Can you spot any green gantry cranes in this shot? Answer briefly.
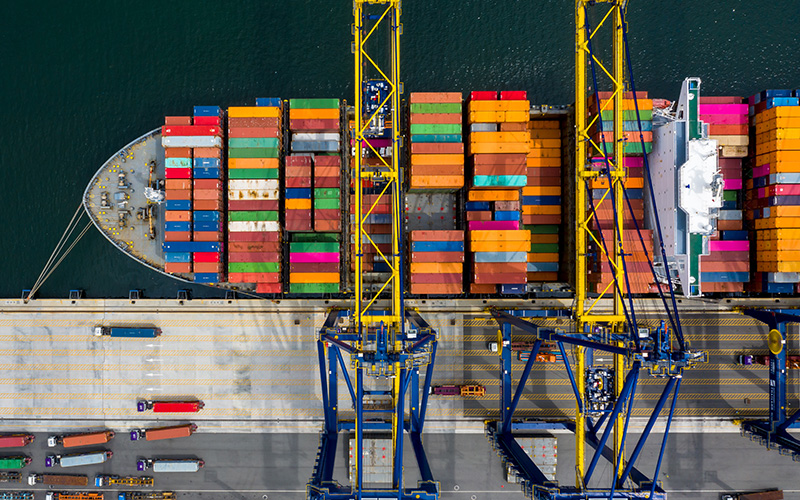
No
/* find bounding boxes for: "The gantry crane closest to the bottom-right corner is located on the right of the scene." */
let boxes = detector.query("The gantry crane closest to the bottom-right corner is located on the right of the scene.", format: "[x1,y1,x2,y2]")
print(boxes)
[733,307,800,457]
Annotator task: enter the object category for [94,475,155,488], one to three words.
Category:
vehicle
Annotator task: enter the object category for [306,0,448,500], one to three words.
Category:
container crane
